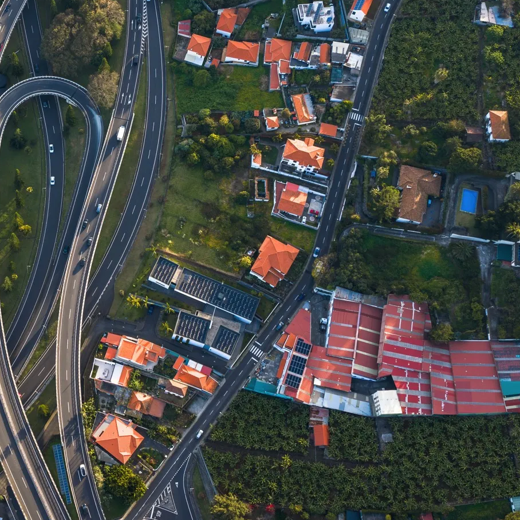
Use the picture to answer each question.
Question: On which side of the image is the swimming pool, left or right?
right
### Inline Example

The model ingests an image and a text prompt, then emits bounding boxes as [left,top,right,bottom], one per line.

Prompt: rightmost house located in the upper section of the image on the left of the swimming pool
[395,164,438,226]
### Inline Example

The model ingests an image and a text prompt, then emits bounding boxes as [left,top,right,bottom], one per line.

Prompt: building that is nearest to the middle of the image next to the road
[249,236,299,290]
